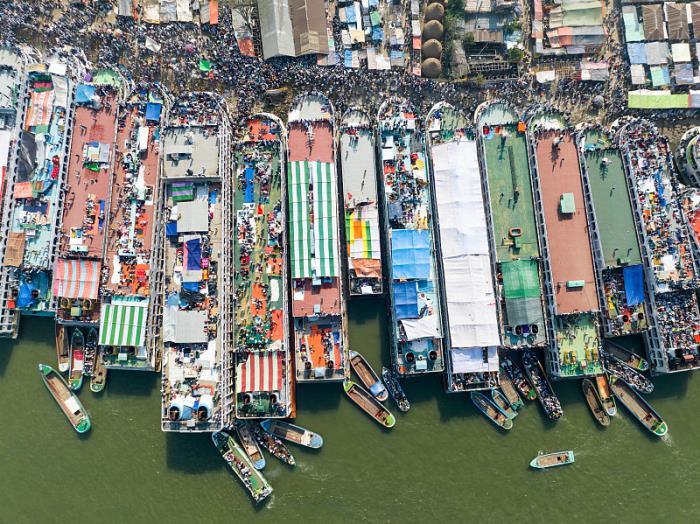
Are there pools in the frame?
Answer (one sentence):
No, no pool can be seen from above.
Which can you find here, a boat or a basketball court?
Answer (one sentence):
The image shows a boat.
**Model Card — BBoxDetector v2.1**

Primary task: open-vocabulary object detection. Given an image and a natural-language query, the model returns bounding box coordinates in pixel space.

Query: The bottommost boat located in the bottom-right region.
[530,452,574,469]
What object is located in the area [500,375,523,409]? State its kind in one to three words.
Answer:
boat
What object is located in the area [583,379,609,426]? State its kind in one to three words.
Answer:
boat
